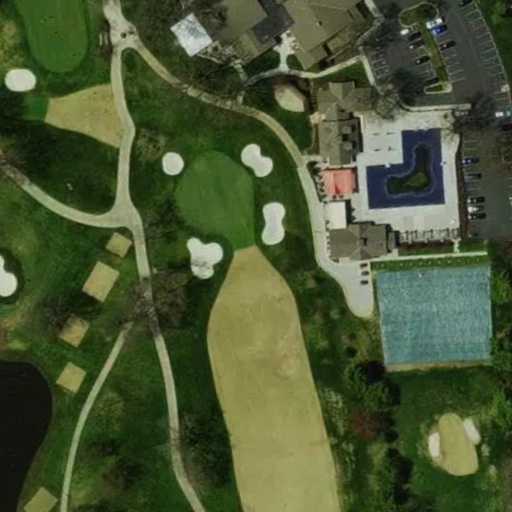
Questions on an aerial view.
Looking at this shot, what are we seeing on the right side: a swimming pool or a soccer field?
swimming pool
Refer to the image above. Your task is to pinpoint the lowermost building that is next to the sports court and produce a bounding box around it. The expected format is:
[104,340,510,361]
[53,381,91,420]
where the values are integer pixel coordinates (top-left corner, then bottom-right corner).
[330,223,395,259]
